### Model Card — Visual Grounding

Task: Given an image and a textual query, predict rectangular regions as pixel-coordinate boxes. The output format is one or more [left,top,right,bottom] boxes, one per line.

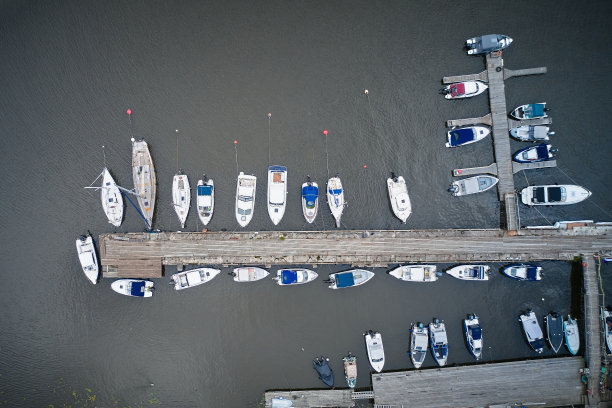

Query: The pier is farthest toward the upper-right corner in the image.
[504,67,549,81]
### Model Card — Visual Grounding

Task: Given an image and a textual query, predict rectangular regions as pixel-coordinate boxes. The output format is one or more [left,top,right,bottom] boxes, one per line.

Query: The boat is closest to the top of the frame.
[463,35,514,55]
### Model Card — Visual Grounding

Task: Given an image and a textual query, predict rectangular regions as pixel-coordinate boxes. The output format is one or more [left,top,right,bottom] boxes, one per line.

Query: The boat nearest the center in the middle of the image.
[302,179,319,232]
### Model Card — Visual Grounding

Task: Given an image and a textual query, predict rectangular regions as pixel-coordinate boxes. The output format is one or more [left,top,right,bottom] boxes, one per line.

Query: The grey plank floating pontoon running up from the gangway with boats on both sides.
[486,54,515,203]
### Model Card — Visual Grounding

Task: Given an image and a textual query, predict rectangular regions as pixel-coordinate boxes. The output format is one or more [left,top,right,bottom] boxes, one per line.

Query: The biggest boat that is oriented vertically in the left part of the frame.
[114,113,157,235]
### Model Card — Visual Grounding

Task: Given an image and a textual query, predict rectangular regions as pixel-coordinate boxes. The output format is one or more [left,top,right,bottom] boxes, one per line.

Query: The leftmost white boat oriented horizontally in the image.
[110,277,157,297]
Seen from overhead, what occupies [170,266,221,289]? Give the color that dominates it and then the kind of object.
white boat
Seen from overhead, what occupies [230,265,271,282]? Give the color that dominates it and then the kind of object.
white boat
